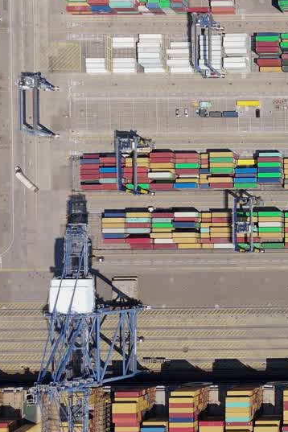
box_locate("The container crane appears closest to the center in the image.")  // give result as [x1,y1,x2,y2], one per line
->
[115,135,158,195]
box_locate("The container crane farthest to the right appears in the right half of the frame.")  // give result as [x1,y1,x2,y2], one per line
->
[232,194,268,252]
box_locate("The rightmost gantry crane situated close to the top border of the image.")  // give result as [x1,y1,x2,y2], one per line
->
[191,13,227,82]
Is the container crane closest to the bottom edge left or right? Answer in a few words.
left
